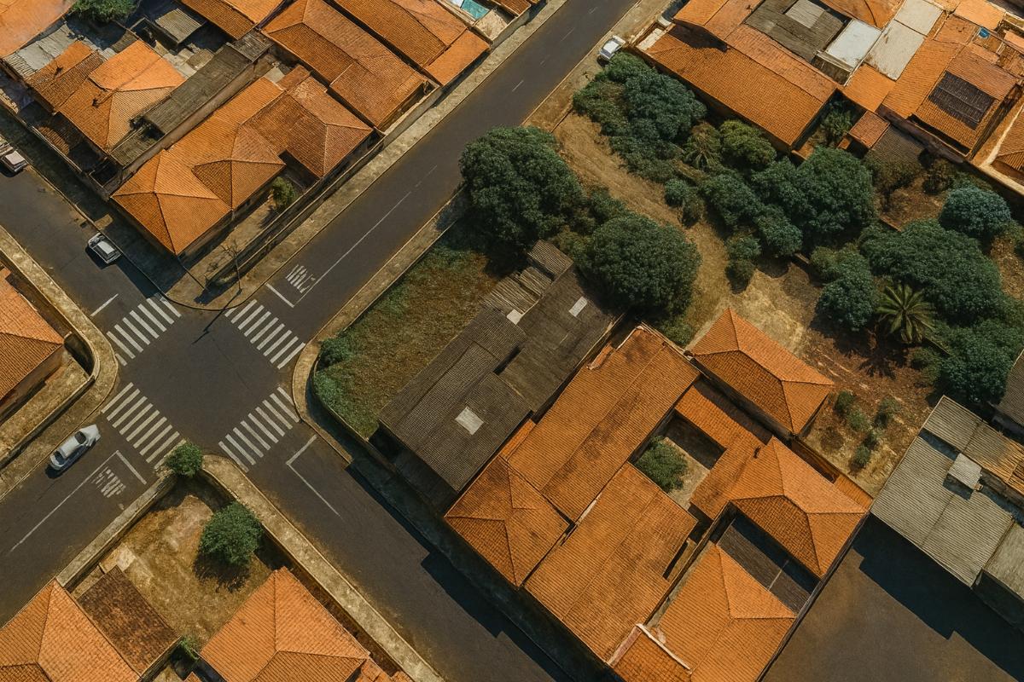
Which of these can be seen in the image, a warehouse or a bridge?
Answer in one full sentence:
There is a warehouse in the scene.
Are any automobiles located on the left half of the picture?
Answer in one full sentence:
Yes, there is an automobile on the left half of the picture.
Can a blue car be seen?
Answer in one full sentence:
No, I can't see a single blue car in this photo.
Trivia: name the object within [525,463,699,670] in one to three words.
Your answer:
house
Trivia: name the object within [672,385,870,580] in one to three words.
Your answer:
house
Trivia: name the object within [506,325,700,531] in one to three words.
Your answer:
warehouse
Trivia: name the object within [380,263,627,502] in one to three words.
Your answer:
shed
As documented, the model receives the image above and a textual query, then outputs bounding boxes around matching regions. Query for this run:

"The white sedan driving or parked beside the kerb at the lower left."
[43,425,100,475]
